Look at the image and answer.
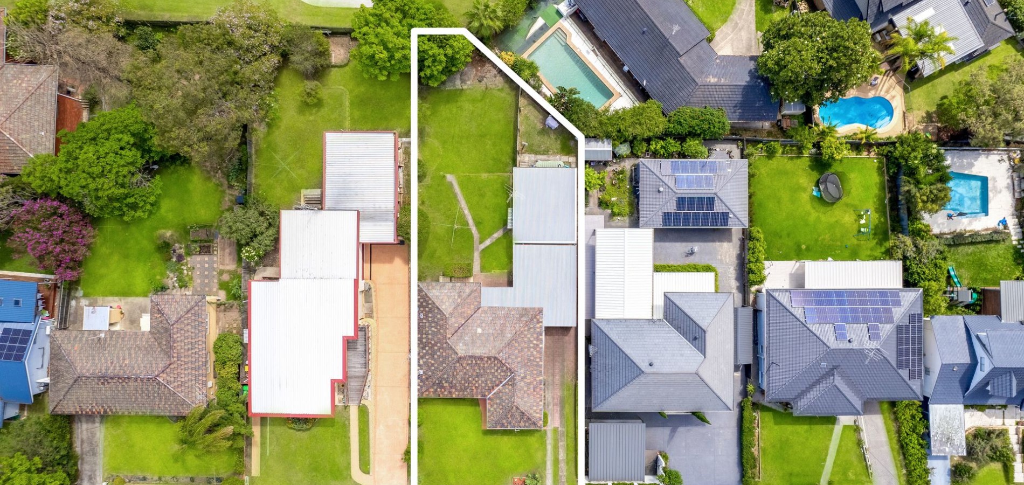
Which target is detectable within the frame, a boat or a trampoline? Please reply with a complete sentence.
This aerial view contains a trampoline.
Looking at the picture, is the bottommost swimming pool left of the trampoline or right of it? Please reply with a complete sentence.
The bottommost swimming pool can be seen on the right of the trampoline.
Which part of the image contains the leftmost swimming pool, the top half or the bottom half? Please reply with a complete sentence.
You can find the leftmost swimming pool in the top half.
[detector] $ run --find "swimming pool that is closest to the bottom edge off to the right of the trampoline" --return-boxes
[942,171,989,217]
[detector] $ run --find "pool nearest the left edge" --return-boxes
[524,23,621,125]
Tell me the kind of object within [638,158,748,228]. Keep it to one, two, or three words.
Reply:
building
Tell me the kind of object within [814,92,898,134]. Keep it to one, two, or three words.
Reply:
swimming pool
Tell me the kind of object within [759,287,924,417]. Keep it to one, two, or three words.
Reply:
house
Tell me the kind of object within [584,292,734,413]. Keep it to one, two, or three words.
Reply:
house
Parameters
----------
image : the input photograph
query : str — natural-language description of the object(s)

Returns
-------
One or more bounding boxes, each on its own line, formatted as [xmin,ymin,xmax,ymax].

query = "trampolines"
[819,173,852,203]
